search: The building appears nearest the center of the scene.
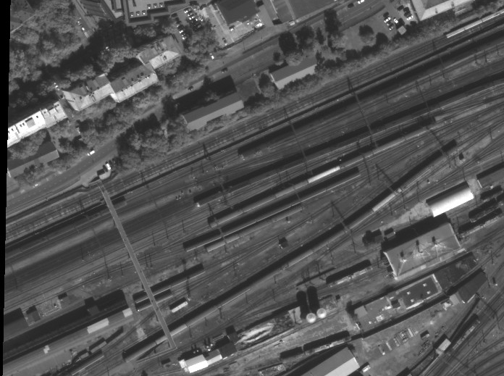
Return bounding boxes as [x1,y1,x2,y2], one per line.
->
[178,90,244,131]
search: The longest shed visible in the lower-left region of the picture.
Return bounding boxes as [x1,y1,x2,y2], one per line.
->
[1,290,128,360]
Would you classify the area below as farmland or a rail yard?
rail yard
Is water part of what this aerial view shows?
No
